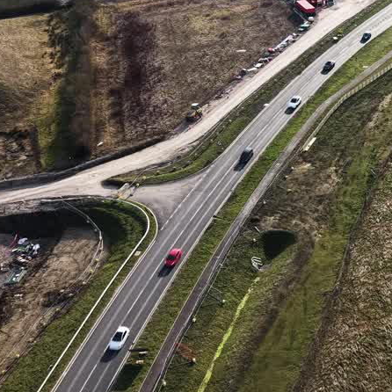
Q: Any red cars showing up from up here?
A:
Yes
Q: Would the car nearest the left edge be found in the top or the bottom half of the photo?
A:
bottom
